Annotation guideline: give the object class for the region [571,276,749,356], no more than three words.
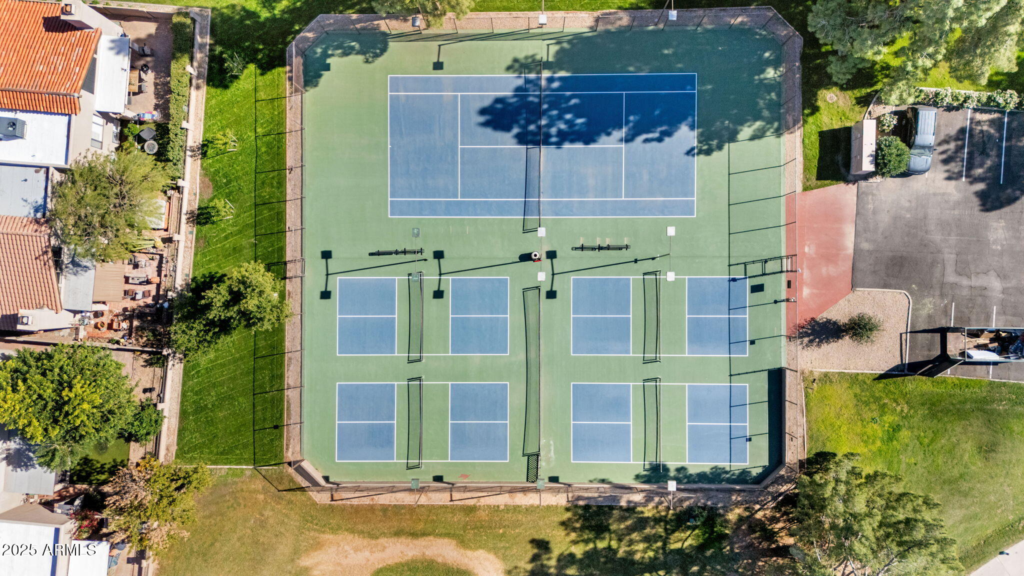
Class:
sports court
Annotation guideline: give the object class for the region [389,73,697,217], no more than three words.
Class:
tennis court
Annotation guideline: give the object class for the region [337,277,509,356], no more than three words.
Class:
sports court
